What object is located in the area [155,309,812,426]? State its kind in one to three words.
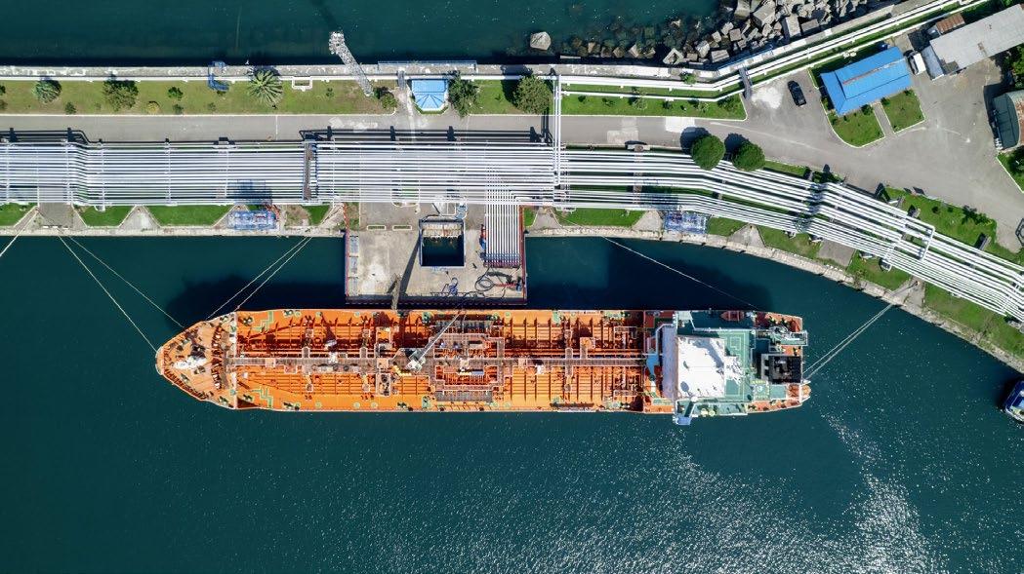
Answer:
ship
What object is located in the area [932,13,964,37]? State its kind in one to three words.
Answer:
shed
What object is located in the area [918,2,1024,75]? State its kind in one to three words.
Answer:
building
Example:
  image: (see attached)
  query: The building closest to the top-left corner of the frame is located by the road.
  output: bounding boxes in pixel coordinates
[411,79,451,111]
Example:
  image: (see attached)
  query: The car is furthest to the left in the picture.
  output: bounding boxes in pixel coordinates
[787,81,805,107]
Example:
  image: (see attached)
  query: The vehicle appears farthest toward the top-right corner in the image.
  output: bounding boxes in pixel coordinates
[918,28,936,43]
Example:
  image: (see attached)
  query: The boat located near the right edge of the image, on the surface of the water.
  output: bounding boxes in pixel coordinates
[999,381,1024,421]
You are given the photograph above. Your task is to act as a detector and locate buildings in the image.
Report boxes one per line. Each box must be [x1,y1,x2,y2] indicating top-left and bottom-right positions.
[932,13,964,37]
[411,79,451,111]
[992,94,1024,146]
[815,45,912,116]
[918,2,1024,75]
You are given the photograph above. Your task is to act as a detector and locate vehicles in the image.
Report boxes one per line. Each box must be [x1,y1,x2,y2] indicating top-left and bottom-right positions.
[918,28,936,43]
[869,40,892,55]
[905,52,926,79]
[787,81,805,107]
